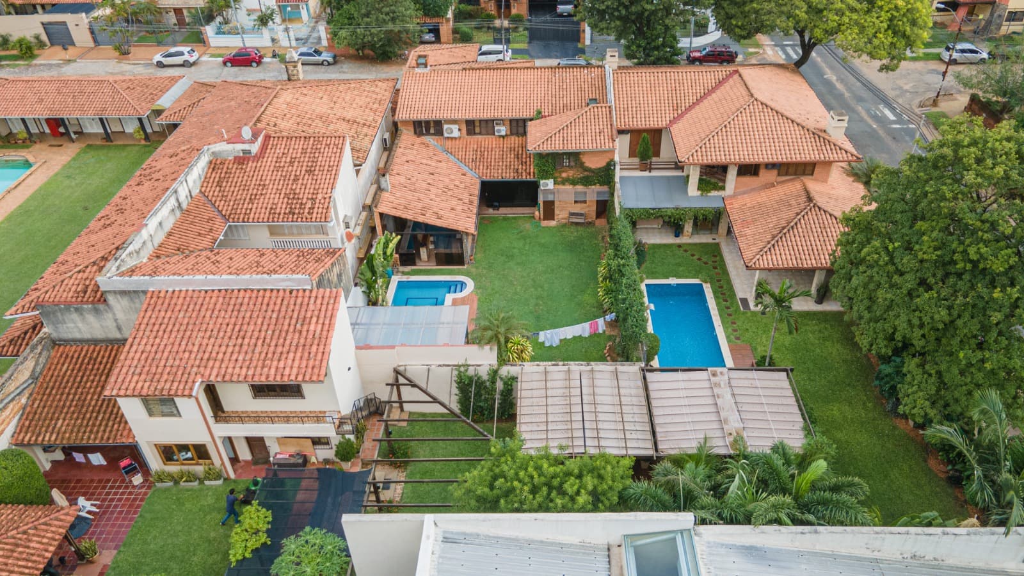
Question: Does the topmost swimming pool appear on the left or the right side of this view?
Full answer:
The topmost swimming pool sits on the left side.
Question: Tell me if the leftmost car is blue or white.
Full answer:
The color of the leftmost car is white.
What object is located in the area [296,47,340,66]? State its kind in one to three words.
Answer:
car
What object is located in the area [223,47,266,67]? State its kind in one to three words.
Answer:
car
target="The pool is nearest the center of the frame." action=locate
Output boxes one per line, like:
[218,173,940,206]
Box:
[383,275,478,337]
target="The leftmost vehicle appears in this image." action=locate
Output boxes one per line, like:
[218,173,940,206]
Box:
[153,46,201,67]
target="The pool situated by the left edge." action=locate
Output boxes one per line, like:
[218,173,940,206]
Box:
[0,154,41,199]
